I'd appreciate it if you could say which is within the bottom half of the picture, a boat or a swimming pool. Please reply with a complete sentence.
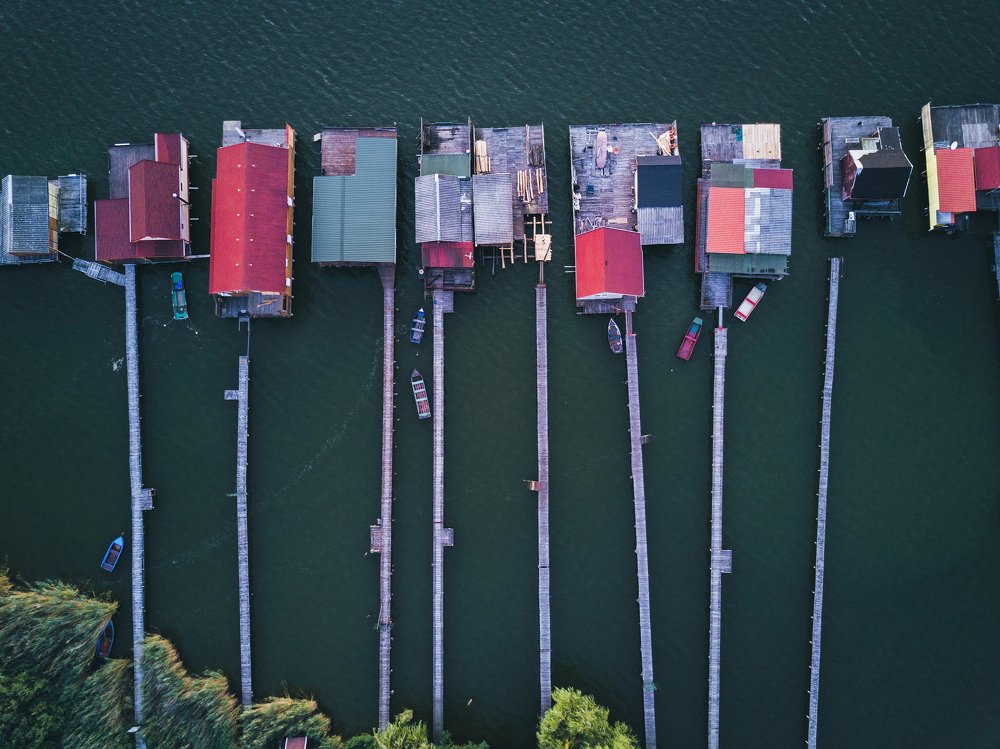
What appears within the bottom half of the picture is a boat.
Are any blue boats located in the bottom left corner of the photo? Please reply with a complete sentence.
Yes, looking in the bottom left corner of the photo, one can make out a blue boat.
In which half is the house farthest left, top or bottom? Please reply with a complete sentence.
It is in the top half that the house farthest left appears.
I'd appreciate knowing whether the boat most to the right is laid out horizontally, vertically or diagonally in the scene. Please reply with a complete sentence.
From this overhead view, the boat most to the right appears to run diagonally.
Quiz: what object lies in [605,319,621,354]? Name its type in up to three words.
boat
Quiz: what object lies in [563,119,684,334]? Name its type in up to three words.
house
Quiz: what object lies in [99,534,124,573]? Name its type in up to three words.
boat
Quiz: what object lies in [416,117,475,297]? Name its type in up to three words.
house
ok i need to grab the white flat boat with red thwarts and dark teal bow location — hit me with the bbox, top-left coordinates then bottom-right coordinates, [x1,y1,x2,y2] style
[733,281,768,323]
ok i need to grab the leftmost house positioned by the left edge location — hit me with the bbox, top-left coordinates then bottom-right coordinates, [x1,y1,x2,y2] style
[0,172,91,264]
